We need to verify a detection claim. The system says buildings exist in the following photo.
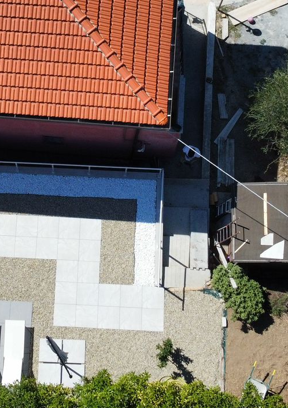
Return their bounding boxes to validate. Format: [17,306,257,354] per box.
[231,183,288,265]
[0,0,184,169]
